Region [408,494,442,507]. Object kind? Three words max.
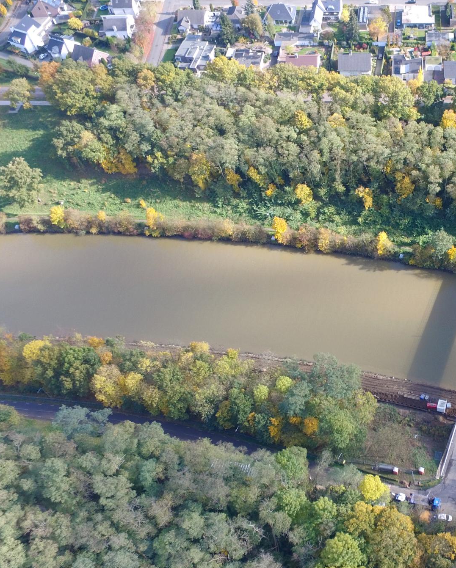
vehicle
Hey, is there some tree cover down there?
Yes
